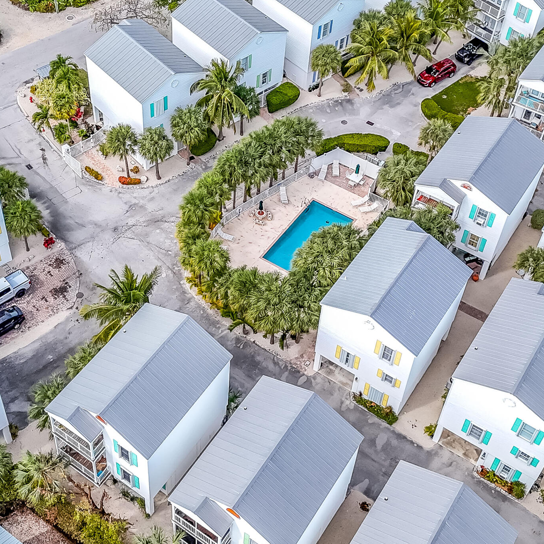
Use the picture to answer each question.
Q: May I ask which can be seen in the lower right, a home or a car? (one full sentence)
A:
What appears in the lower right is a home.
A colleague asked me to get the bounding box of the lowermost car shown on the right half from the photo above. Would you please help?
[415,54,460,85]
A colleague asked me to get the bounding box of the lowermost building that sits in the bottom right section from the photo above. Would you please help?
[348,460,517,544]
